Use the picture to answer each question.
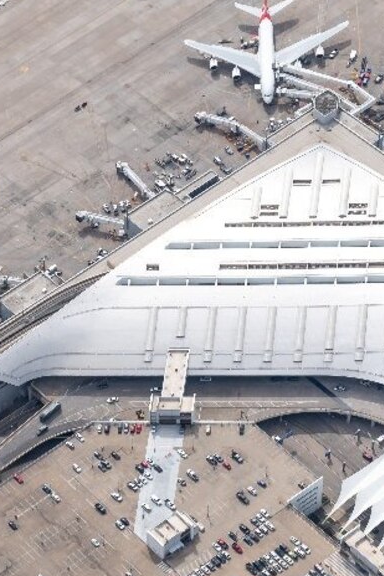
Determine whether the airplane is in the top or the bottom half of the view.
top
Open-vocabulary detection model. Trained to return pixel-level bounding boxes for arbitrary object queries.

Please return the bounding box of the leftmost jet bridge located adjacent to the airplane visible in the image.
[196,111,267,151]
